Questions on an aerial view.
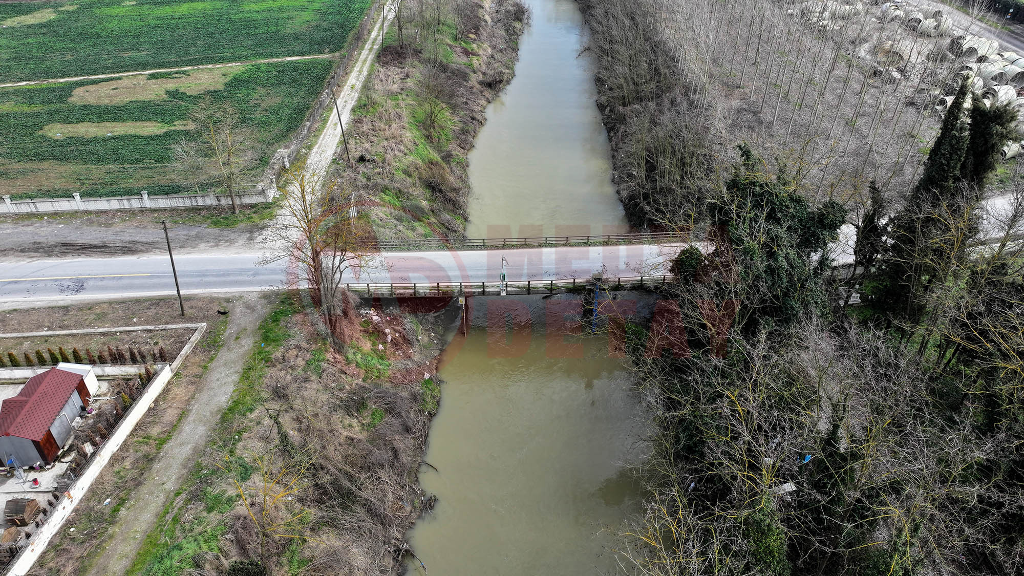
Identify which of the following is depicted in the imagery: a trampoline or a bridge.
bridge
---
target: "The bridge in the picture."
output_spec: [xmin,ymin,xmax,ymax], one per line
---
[348,228,717,315]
